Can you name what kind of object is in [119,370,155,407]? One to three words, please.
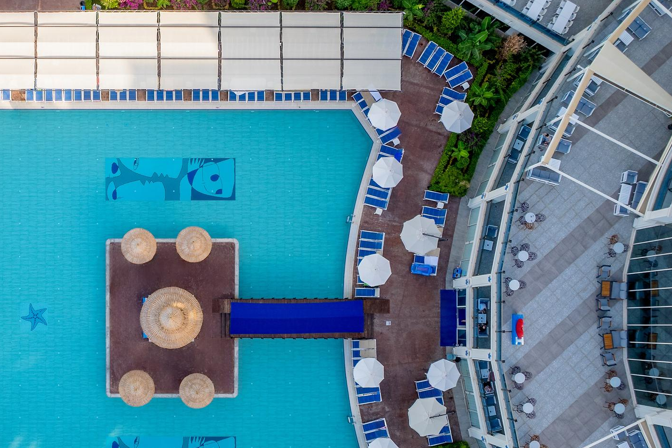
umbrella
